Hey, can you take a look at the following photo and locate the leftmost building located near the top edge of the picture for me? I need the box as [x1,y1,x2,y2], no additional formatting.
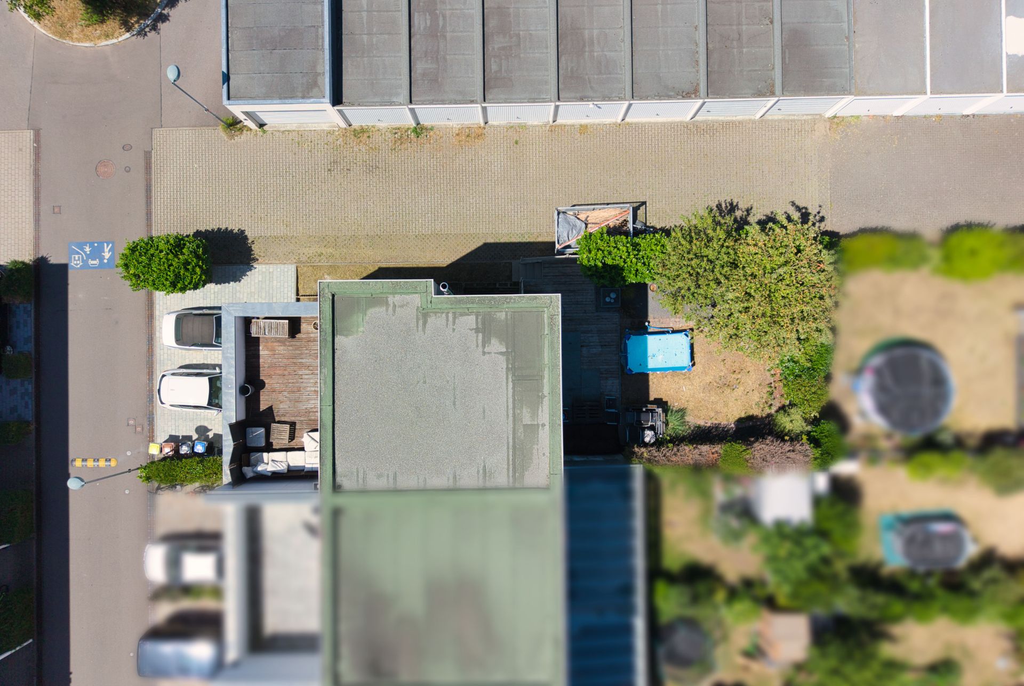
[223,0,353,133]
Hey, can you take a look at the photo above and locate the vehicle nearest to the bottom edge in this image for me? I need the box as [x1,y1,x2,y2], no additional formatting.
[130,628,223,686]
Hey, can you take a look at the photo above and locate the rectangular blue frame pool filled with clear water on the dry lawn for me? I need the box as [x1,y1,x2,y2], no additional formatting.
[619,326,694,376]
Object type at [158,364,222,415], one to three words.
car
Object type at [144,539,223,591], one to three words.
car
